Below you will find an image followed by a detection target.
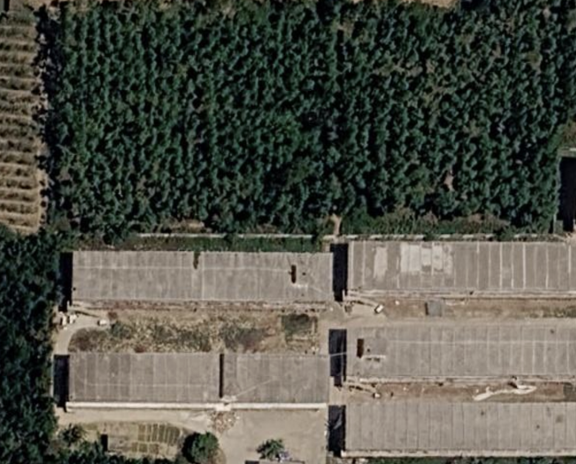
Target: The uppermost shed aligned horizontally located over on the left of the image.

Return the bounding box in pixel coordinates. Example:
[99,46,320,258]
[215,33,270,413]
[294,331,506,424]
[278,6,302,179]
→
[70,252,333,313]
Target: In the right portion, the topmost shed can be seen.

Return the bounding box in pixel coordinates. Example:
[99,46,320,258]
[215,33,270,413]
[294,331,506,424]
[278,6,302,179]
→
[346,241,576,302]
